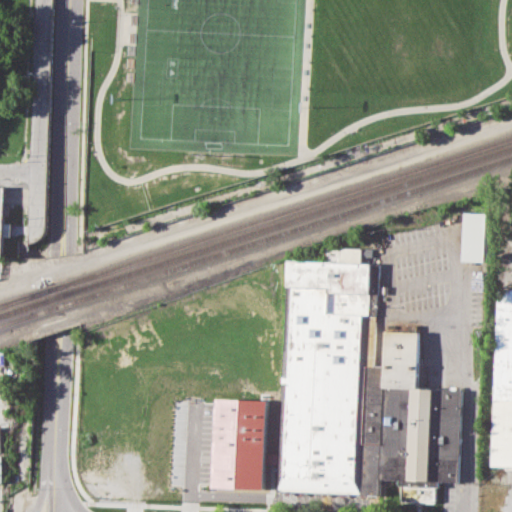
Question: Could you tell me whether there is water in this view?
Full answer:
No, the picture contains no water.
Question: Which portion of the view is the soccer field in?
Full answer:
The soccer field appears toward the top of the photo.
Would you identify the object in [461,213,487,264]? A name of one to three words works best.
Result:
shed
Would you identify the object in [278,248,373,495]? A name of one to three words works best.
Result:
building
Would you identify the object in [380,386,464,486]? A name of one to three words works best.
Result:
building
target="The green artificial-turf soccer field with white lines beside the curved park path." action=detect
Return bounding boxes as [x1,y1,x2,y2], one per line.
[131,0,304,156]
